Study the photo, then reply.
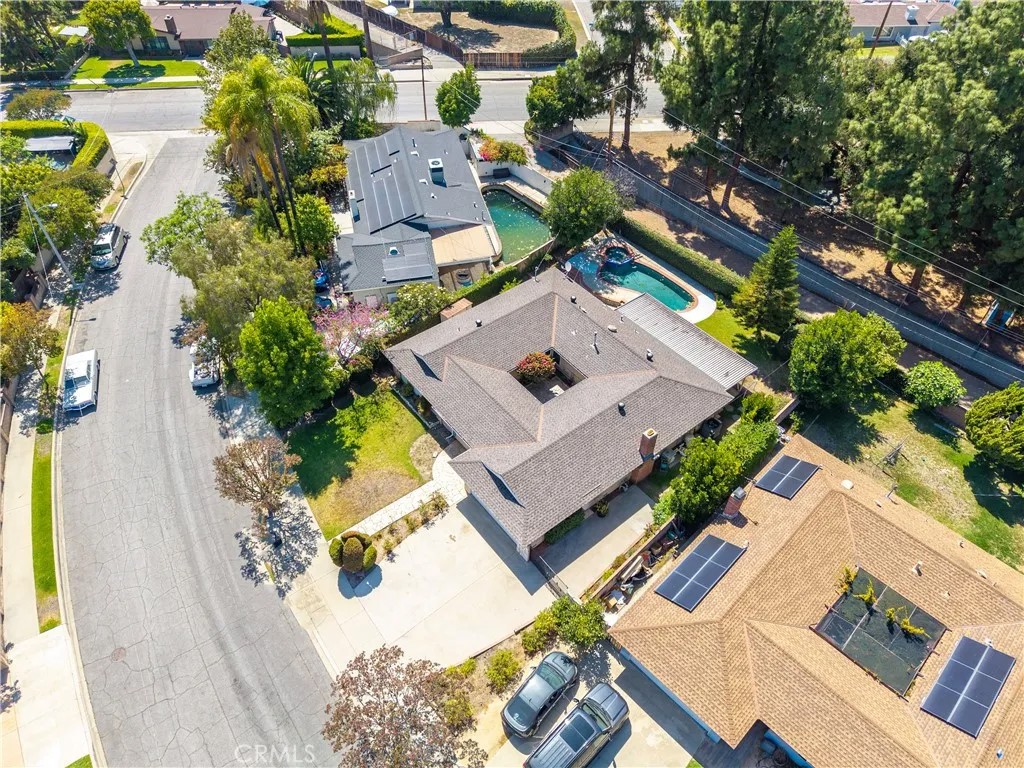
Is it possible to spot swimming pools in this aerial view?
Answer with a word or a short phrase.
Yes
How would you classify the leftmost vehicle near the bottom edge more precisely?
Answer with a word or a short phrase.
automobile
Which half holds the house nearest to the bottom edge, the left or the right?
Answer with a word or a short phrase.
right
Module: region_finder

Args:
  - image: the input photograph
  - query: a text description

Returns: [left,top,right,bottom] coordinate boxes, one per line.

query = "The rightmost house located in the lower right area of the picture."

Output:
[608,433,1024,768]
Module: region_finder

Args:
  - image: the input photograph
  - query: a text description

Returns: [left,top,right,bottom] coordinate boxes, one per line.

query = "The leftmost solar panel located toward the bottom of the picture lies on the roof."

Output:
[655,532,753,610]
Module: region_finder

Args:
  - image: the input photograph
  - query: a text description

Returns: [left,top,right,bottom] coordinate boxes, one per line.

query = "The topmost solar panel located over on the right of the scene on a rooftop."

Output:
[755,454,826,498]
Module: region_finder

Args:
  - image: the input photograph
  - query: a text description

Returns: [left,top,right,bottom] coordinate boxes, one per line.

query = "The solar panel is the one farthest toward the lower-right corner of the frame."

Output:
[923,636,1021,738]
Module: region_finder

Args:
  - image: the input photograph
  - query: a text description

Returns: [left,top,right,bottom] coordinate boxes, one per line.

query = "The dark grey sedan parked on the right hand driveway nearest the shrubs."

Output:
[503,652,579,742]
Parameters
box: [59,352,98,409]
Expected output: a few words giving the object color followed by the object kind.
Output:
white car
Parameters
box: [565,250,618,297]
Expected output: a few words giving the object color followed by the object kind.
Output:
blue swimming pool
